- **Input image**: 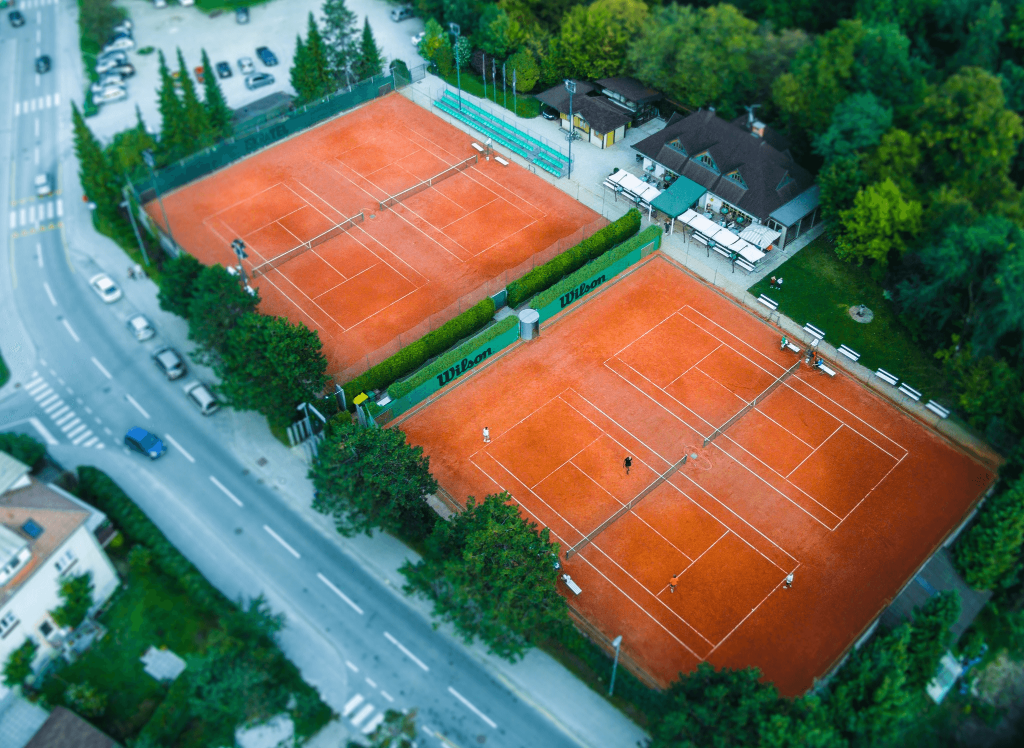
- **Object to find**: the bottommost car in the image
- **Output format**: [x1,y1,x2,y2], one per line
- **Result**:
[121,424,169,461]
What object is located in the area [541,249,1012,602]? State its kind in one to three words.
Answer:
tennis court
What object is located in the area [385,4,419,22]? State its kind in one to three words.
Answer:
car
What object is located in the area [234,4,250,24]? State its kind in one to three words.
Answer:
car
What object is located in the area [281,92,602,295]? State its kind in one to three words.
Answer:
tennis court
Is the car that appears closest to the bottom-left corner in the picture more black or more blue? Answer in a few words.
blue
